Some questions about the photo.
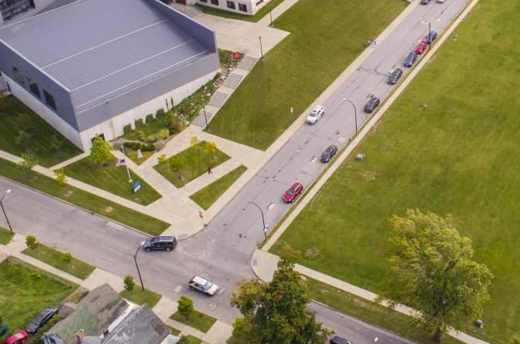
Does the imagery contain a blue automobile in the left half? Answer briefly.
No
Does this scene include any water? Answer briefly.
No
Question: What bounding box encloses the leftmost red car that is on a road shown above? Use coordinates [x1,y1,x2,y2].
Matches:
[279,179,304,204]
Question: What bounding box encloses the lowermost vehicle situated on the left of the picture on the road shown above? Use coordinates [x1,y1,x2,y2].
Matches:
[188,273,222,298]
